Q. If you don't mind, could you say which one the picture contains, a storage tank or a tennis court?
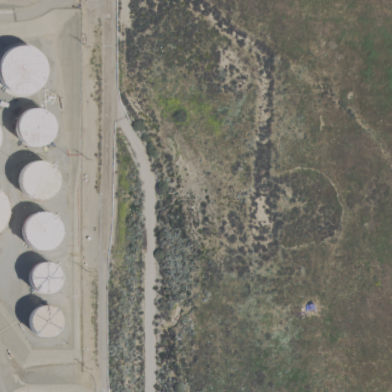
storage tank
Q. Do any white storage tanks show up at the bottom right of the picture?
No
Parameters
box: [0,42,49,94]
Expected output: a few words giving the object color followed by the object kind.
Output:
white storage tank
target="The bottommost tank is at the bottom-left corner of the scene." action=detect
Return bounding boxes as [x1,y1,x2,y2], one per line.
[30,304,65,340]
